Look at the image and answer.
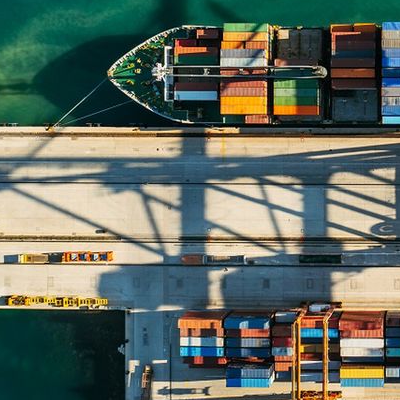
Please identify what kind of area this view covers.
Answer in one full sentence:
The area seen from above is a port.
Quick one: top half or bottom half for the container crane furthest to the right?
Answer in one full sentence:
The bottom half of the photo is where the container crane furthest to the right is.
